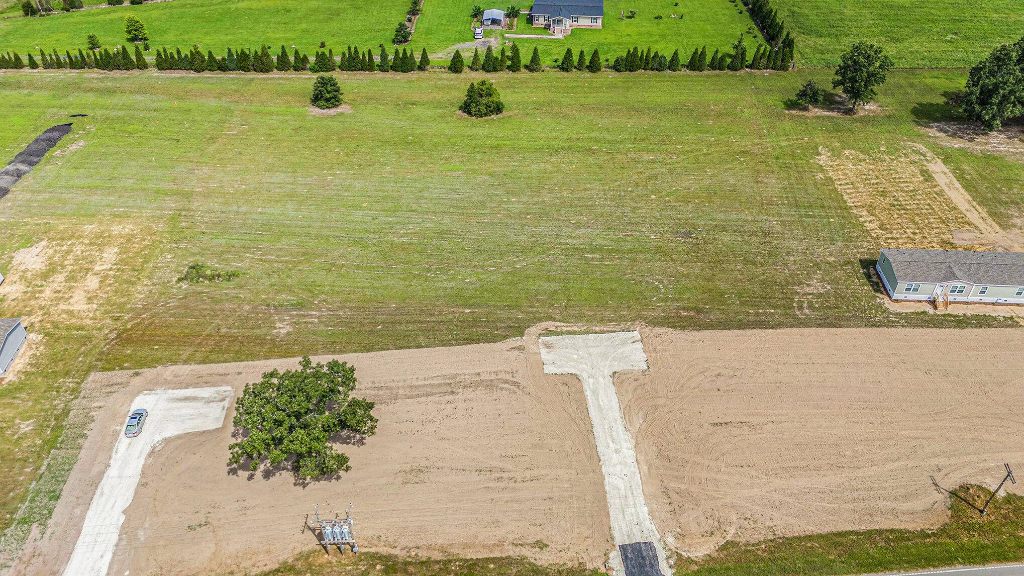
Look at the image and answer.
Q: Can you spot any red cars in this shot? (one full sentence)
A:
No, the scene contains no red car.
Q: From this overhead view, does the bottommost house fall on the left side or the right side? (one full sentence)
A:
It is on the left.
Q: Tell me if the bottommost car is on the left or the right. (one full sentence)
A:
The bottommost car sits on the left side.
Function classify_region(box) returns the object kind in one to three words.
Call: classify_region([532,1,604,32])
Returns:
house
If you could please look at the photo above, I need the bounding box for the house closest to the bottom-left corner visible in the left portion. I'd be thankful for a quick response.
[0,315,30,375]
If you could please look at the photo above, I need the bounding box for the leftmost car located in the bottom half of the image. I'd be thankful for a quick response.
[123,405,150,437]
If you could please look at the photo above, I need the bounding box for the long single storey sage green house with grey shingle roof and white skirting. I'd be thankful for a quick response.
[874,249,1024,304]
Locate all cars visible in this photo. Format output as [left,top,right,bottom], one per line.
[485,19,492,26]
[474,29,482,37]
[123,405,150,437]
